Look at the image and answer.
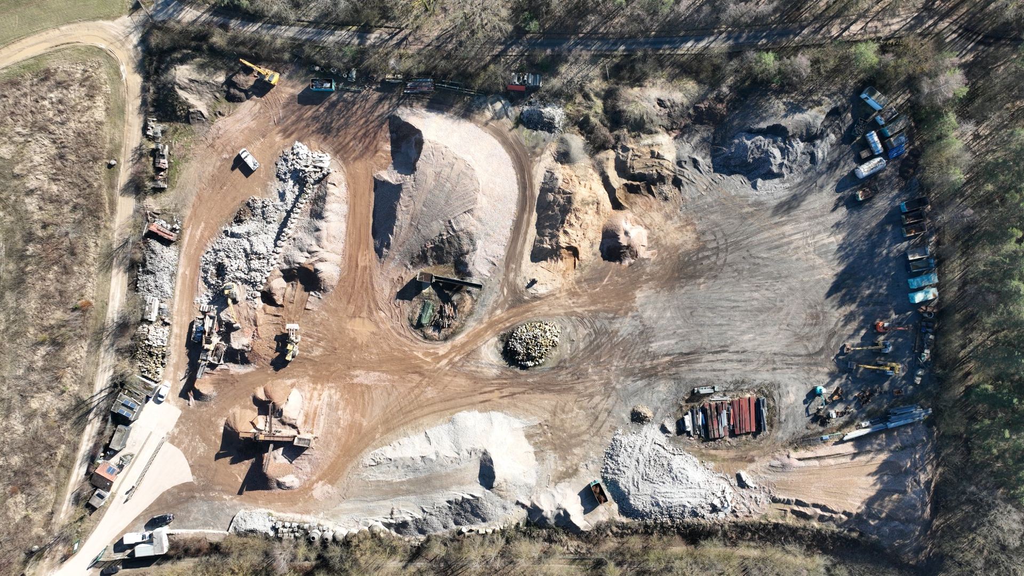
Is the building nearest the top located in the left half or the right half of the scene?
left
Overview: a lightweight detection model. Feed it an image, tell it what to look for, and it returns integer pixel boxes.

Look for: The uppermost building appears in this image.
[111,390,149,421]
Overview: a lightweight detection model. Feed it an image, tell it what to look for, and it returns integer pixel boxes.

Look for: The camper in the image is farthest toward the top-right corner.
[855,86,889,113]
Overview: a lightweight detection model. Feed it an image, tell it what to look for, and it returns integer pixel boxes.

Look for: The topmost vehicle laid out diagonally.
[235,53,283,91]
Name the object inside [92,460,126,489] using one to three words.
house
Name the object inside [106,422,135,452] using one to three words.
shed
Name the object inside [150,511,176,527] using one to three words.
car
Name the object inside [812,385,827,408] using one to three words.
work vehicle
